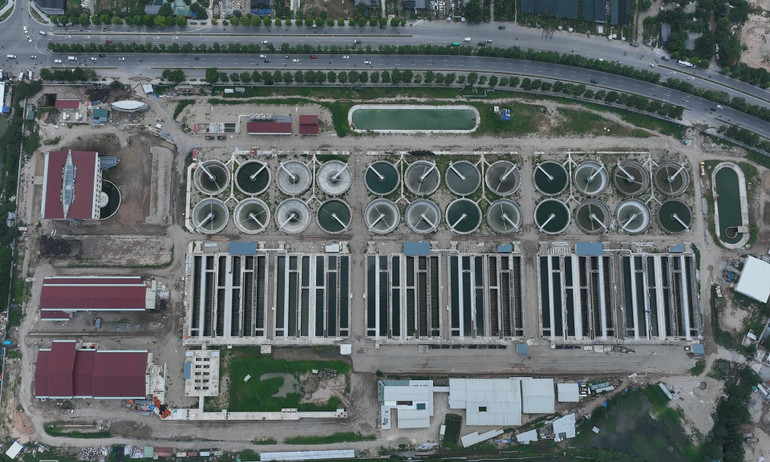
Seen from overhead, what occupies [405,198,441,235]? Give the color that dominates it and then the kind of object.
gray storage tank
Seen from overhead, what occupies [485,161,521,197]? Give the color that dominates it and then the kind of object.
gray storage tank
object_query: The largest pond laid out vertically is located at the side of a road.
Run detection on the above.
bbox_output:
[711,163,749,248]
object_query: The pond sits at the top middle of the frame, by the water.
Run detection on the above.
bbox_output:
[347,105,480,133]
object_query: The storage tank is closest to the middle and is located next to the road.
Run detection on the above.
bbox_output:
[364,198,401,235]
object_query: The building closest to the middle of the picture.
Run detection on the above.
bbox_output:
[404,242,429,254]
